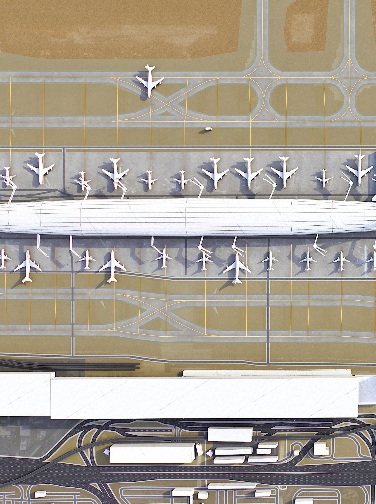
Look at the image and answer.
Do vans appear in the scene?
No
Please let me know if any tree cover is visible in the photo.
No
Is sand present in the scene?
Yes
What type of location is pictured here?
airport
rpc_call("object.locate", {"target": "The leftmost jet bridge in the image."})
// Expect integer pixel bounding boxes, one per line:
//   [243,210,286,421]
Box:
[3,176,23,204]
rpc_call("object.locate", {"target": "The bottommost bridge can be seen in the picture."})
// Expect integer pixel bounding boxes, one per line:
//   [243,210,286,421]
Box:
[0,435,208,487]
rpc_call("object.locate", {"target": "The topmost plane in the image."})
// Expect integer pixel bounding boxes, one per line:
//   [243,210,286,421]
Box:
[135,65,163,98]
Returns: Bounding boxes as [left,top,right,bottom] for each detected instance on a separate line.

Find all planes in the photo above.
[300,251,317,271]
[346,154,374,186]
[78,250,96,270]
[25,152,53,185]
[195,251,213,270]
[235,157,263,189]
[0,249,12,269]
[140,169,158,190]
[201,157,229,189]
[262,250,280,271]
[270,156,298,188]
[135,65,163,98]
[155,249,173,269]
[12,250,41,283]
[97,250,126,283]
[222,252,250,284]
[101,157,129,189]
[366,251,376,270]
[315,169,333,188]
[173,170,192,189]
[333,251,351,270]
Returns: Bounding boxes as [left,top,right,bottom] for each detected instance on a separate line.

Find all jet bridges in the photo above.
[231,236,248,257]
[3,176,23,204]
[339,173,354,201]
[70,235,86,258]
[191,176,206,199]
[313,234,328,256]
[198,236,214,258]
[113,178,131,200]
[76,177,95,200]
[38,234,56,257]
[263,174,278,199]
[152,236,167,255]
